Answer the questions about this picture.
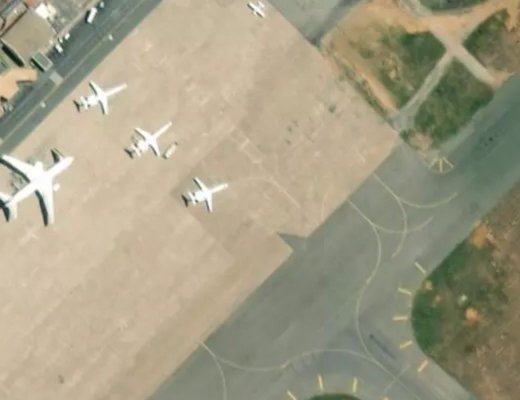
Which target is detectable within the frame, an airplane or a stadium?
airplane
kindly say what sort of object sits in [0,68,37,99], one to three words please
building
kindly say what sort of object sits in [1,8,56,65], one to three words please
building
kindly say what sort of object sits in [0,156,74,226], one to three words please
airplane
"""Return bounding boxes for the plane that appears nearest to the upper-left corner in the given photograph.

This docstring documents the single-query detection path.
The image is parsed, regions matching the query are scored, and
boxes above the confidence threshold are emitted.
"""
[80,82,126,114]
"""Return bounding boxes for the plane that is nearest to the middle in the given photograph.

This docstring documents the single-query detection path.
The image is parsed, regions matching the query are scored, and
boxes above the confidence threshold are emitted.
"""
[186,178,228,211]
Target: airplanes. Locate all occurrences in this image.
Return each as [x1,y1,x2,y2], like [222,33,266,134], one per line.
[186,178,228,211]
[130,122,171,158]
[80,82,126,114]
[248,0,265,17]
[0,156,74,226]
